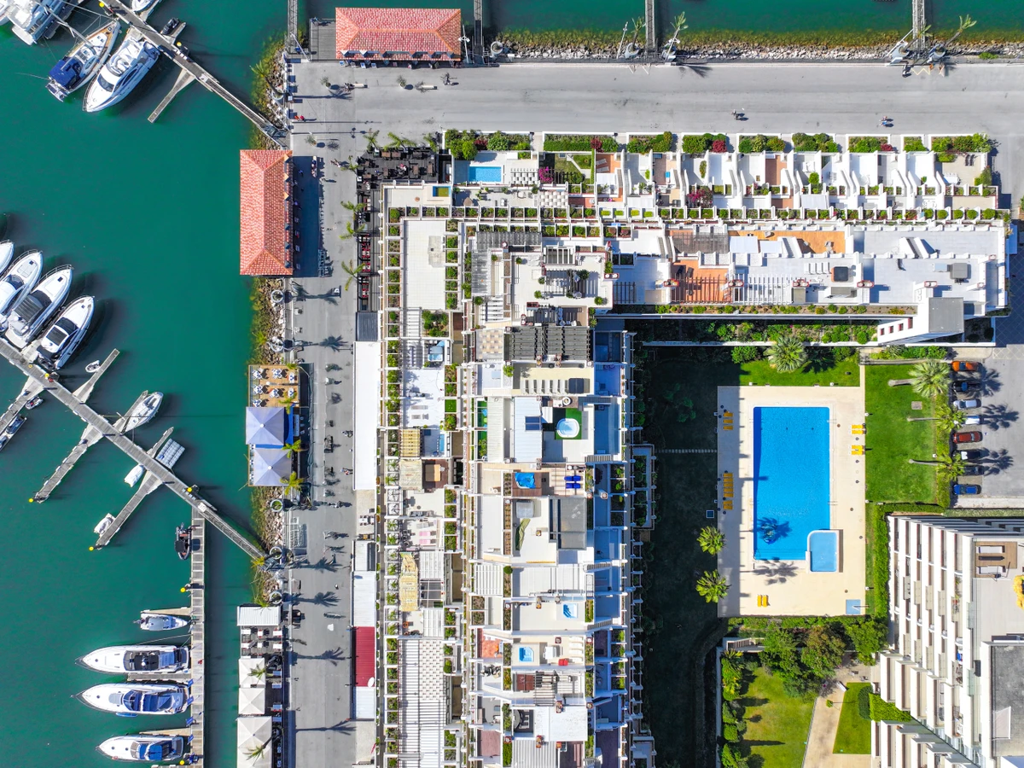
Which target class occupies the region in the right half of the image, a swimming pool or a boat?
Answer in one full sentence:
Visible in the right half of the image is a swimming pool.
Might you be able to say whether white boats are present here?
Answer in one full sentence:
Yes, there's a white boat down there.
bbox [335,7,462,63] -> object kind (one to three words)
building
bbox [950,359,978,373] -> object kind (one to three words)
car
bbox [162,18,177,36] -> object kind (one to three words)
boat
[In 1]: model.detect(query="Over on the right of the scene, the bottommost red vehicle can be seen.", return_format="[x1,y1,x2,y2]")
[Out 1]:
[951,430,981,444]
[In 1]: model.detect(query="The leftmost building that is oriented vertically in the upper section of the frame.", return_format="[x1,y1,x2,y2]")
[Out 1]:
[239,149,293,280]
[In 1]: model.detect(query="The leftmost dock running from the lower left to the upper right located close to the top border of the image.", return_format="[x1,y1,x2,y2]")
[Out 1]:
[45,0,91,42]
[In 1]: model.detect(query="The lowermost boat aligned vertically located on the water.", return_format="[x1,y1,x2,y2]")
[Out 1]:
[174,520,191,561]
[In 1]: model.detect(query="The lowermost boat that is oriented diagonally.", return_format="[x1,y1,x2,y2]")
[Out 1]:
[93,514,113,535]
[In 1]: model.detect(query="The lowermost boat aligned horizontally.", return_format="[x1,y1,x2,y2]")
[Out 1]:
[96,731,192,761]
